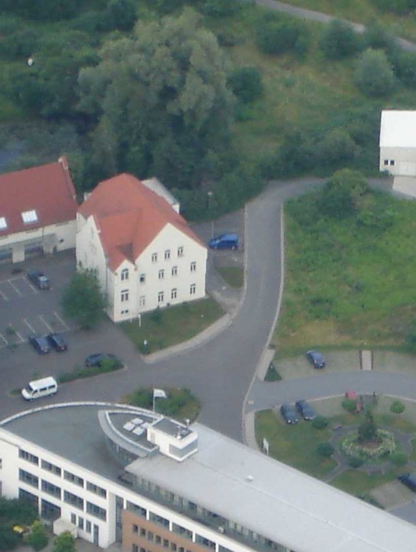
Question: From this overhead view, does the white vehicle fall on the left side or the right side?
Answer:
left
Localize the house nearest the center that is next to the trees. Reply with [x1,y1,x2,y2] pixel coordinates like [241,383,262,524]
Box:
[71,183,208,322]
